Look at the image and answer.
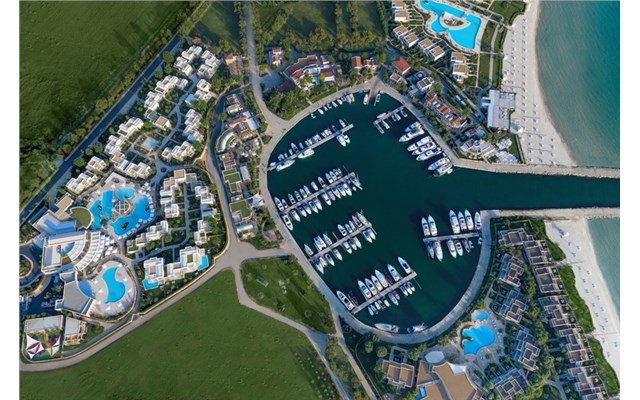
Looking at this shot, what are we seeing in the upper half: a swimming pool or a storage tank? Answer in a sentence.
The feature located in the upper half is a swimming pool.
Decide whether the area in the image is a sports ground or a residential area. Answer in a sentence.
This image shows a residential area.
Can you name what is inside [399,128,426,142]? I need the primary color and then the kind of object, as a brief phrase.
white boat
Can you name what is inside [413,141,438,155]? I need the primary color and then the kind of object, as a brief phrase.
white boat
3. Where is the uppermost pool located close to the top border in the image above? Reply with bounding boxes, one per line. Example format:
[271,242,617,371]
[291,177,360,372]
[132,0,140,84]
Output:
[416,0,486,54]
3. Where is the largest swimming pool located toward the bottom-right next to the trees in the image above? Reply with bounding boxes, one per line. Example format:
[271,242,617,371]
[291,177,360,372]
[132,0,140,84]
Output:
[456,305,506,366]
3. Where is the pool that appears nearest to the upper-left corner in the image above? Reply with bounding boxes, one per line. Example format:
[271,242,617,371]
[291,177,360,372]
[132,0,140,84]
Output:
[139,137,158,153]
